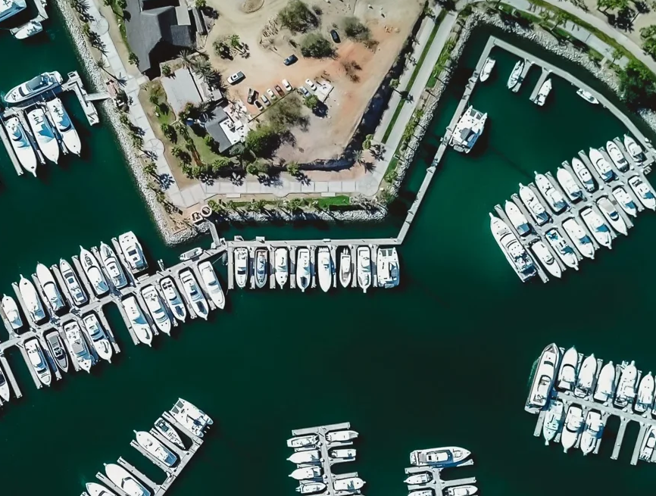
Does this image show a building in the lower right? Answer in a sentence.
No, looking in the lower right, there is no building.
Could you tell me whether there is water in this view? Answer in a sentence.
Yes, the picture does contain water.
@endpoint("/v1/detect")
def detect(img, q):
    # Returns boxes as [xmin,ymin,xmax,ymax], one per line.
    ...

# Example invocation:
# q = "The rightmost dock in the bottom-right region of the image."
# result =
[534,347,656,464]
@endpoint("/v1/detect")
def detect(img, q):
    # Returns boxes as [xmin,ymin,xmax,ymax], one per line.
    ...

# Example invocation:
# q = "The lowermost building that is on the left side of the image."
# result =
[206,107,242,153]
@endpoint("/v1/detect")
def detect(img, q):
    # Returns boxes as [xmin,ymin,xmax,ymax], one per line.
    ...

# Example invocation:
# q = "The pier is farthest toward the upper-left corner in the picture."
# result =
[12,0,47,32]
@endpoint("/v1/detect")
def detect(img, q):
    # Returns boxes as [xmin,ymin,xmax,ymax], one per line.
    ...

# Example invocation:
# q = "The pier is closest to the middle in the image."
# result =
[226,238,399,288]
